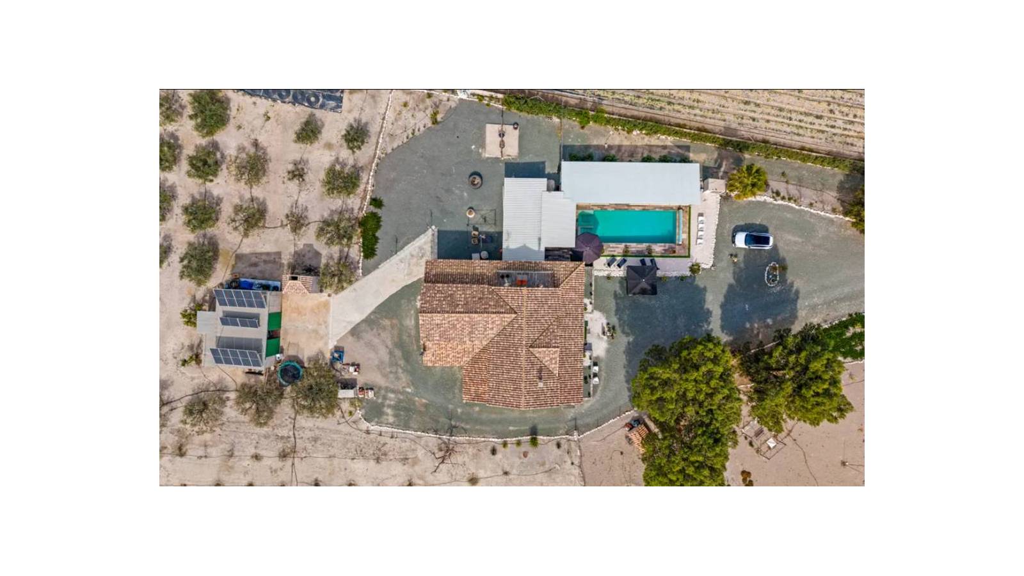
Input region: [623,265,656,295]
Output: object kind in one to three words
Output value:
gazebo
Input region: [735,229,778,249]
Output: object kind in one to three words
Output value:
car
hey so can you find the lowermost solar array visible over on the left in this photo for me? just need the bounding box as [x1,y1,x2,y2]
[210,348,263,367]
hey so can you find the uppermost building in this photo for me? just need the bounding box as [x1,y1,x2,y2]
[560,161,704,206]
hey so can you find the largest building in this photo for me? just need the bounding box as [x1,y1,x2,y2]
[418,259,584,411]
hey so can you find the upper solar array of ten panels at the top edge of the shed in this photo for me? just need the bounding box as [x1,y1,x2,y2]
[214,289,266,308]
